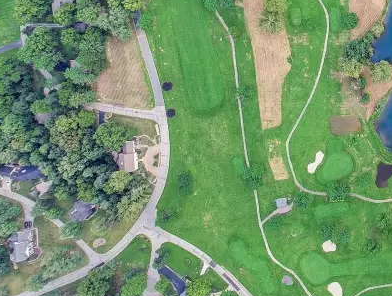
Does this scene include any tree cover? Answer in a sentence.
Yes, some tree cover is visible.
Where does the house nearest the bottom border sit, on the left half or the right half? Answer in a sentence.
The house nearest the bottom border sits on the left side.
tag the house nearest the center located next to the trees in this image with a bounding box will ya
[111,141,138,171]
